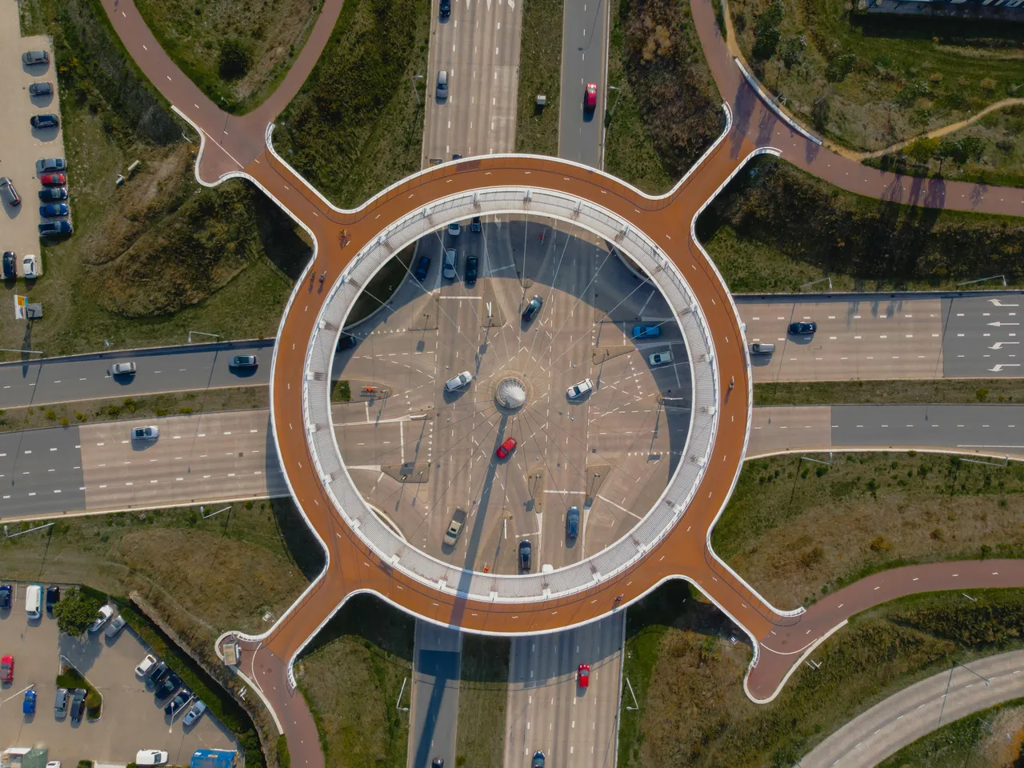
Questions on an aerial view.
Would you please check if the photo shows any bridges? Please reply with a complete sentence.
Yes, I can see a bridge in this picture.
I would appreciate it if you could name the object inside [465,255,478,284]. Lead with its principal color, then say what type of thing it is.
black vehicle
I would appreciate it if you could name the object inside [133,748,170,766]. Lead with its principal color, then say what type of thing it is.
white vehicle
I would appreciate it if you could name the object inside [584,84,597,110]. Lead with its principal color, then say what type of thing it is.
red vehicle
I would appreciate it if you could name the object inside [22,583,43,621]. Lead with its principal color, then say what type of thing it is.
white vehicle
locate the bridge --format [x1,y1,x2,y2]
[217,100,808,689]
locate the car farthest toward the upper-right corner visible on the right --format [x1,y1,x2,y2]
[787,321,817,335]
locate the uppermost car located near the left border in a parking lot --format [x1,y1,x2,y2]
[22,50,52,66]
